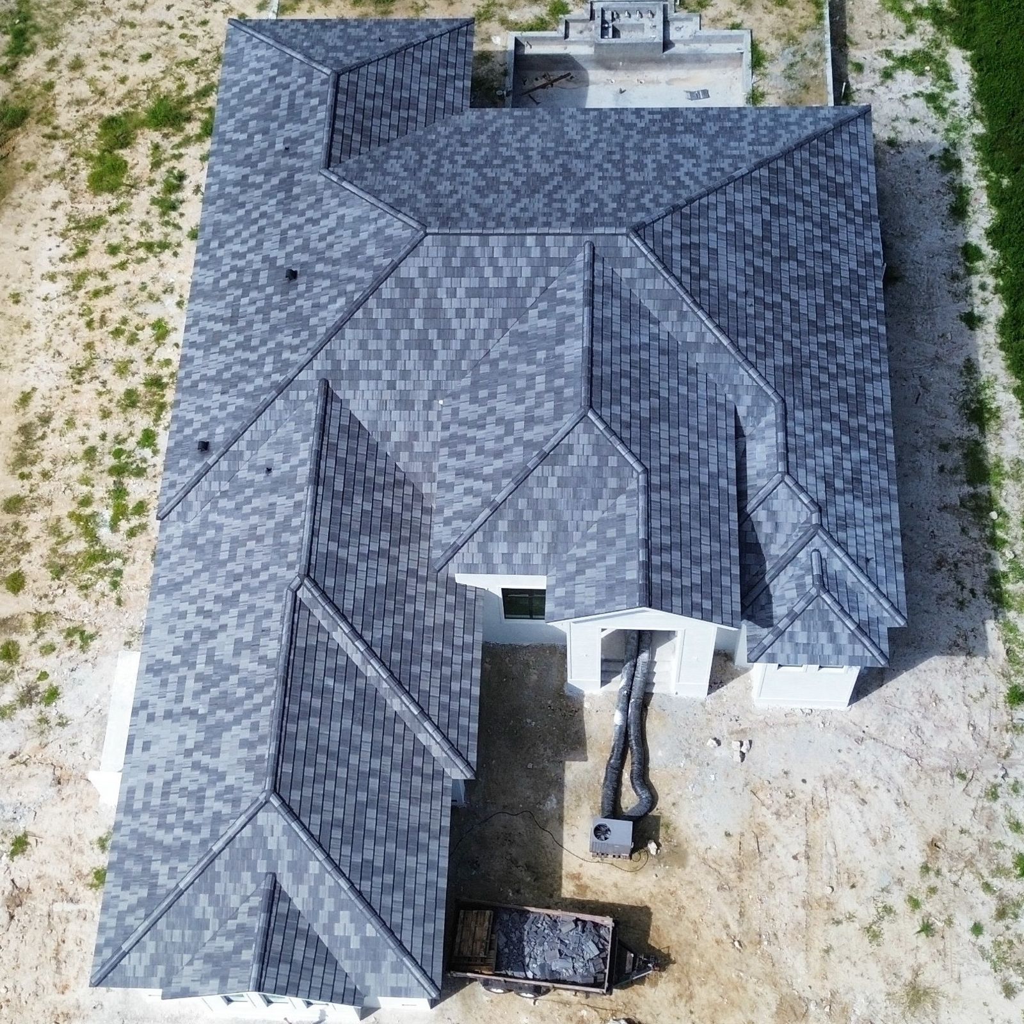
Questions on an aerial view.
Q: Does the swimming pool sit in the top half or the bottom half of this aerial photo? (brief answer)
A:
top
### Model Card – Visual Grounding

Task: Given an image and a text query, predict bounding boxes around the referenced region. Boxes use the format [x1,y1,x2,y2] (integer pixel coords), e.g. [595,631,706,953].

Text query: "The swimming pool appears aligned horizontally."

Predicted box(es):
[505,0,754,106]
